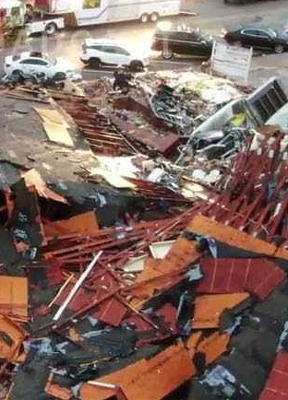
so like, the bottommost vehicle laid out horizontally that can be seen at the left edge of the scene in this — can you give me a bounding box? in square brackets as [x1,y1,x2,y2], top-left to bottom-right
[0,48,77,78]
